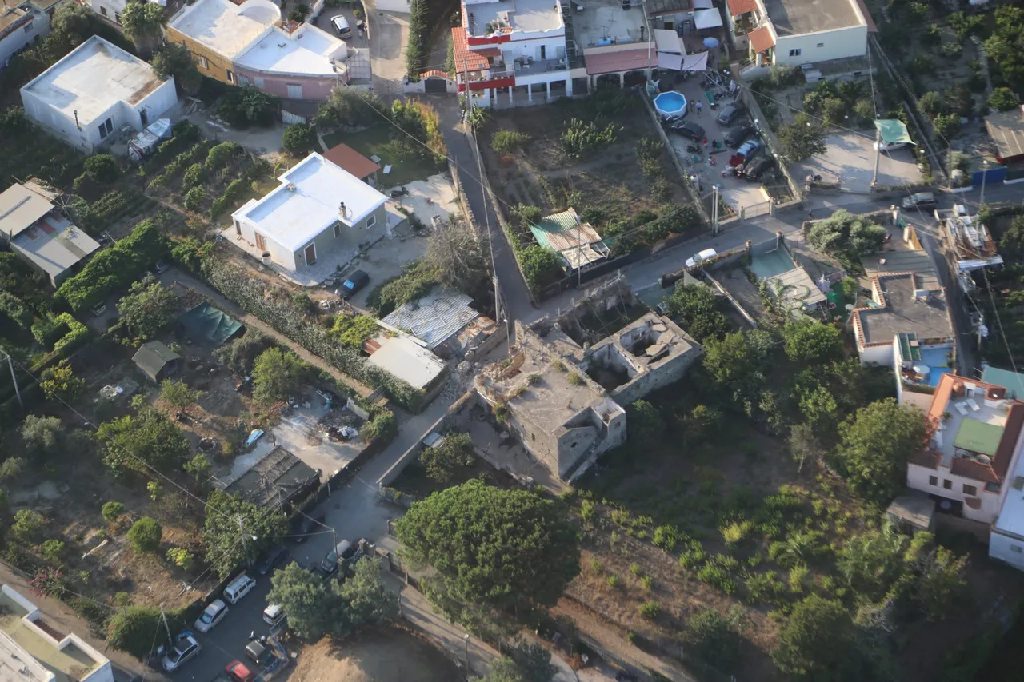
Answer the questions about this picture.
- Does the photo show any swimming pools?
Yes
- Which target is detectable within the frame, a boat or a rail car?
boat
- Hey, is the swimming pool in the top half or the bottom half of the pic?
top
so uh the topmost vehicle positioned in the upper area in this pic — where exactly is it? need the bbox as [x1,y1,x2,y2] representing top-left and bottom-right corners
[330,14,350,37]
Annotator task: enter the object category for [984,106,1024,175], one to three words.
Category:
shed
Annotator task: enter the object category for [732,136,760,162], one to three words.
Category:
car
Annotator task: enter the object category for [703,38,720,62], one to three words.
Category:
umbrella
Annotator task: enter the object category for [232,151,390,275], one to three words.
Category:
house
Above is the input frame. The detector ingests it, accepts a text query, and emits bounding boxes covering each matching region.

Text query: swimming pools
[653,92,689,124]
